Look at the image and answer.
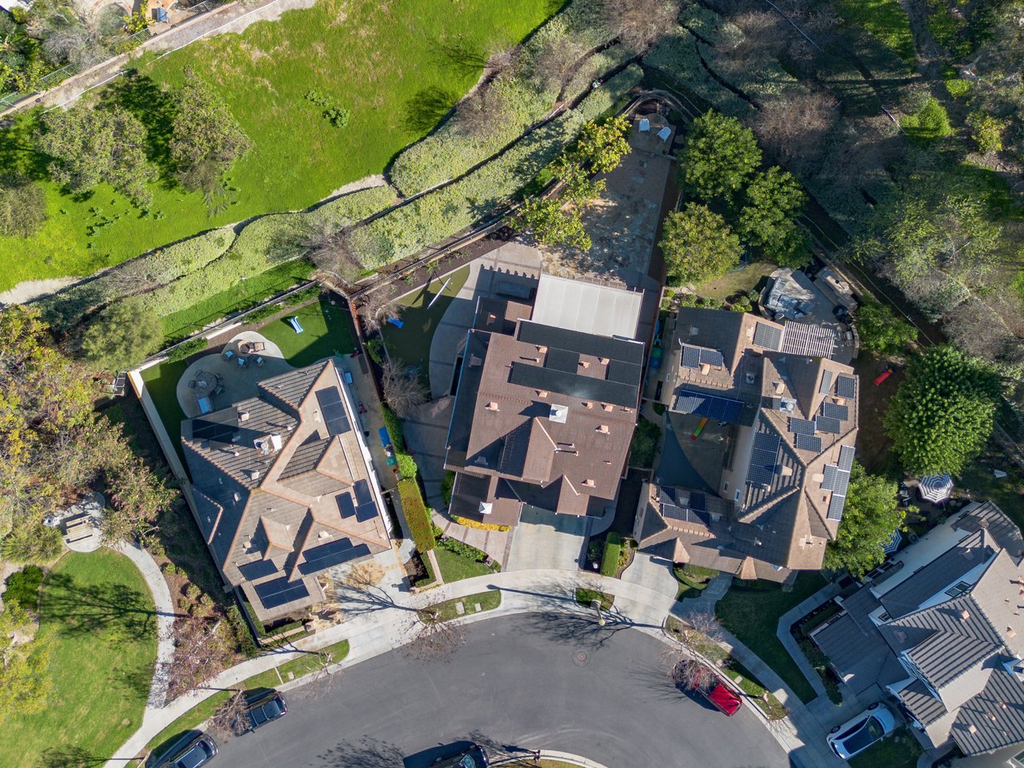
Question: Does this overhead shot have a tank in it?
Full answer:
No, there appears to be no tank in this shot.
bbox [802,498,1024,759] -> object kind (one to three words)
house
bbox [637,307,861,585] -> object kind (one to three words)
house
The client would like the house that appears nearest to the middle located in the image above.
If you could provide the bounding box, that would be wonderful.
[443,296,646,526]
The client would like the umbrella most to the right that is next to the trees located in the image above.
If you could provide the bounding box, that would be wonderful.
[911,468,948,502]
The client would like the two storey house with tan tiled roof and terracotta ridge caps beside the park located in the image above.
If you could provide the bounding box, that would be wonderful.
[180,359,397,622]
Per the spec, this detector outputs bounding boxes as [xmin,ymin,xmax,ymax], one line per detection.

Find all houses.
[802,498,1024,759]
[180,359,397,622]
[637,307,861,585]
[443,296,646,526]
